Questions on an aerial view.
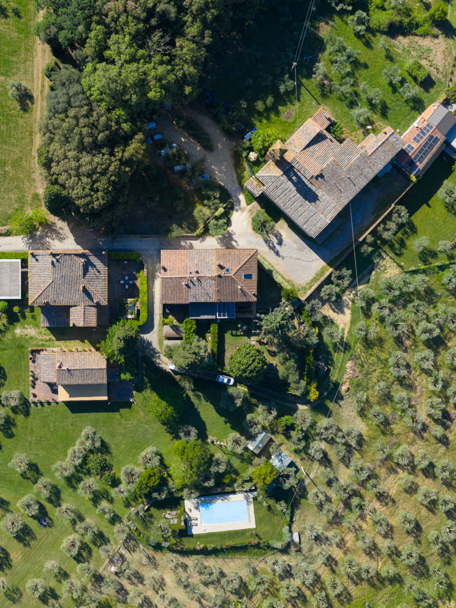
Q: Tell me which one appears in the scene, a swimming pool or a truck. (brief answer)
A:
swimming pool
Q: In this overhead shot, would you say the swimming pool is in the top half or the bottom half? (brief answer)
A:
bottom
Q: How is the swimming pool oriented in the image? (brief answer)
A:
from side to side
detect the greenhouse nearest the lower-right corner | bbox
[269,450,299,475]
